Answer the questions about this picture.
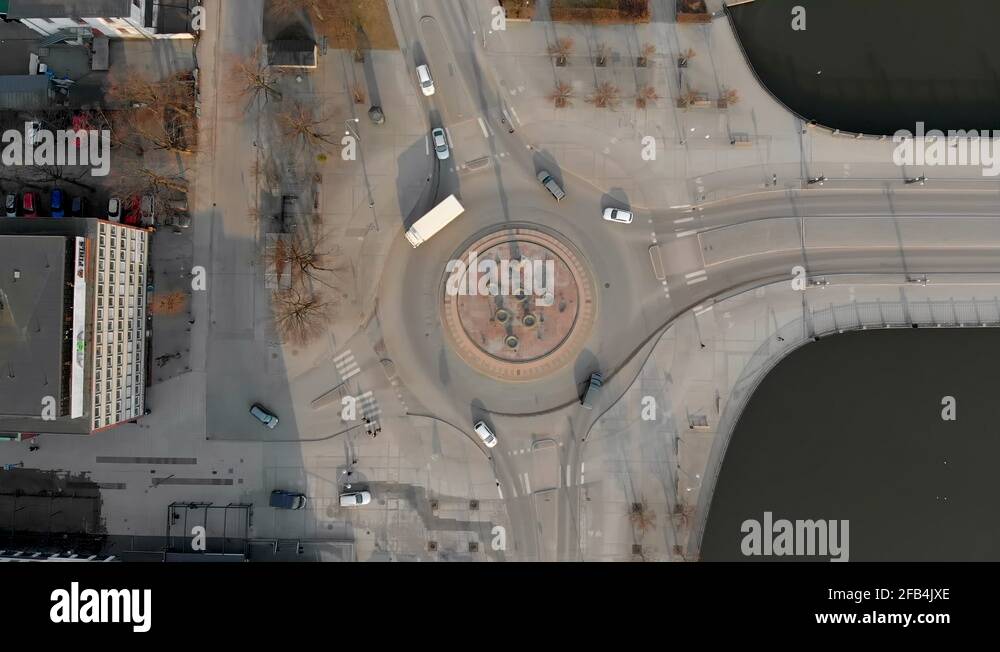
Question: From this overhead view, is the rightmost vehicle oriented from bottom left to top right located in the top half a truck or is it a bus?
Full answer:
The rightmost vehicle oriented from bottom left to top right located in the top half in the image is a truck.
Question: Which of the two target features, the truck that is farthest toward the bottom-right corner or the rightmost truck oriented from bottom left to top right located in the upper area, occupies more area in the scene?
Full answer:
The rightmost truck oriented from bottom left to top right located in the upper area is larger than the truck that is farthest toward the bottom-right corner.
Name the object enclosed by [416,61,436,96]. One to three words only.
car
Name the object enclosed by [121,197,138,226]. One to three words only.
car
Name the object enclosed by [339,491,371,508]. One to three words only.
vehicle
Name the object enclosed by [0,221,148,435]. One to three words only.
building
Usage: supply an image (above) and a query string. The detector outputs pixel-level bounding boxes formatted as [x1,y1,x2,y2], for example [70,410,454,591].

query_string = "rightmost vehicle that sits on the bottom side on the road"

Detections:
[580,374,604,410]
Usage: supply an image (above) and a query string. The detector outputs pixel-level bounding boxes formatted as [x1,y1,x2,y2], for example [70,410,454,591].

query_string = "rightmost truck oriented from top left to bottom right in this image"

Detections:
[538,169,565,201]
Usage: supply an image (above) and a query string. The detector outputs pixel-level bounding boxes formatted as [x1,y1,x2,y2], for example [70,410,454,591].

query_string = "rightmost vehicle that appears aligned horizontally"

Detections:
[603,207,634,224]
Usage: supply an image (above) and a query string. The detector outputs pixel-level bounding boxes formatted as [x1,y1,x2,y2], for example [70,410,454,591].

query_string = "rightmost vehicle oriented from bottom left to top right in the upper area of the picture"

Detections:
[407,190,467,246]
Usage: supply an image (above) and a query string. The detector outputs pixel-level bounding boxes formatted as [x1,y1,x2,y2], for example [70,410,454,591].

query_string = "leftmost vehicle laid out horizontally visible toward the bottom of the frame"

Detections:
[269,492,306,509]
